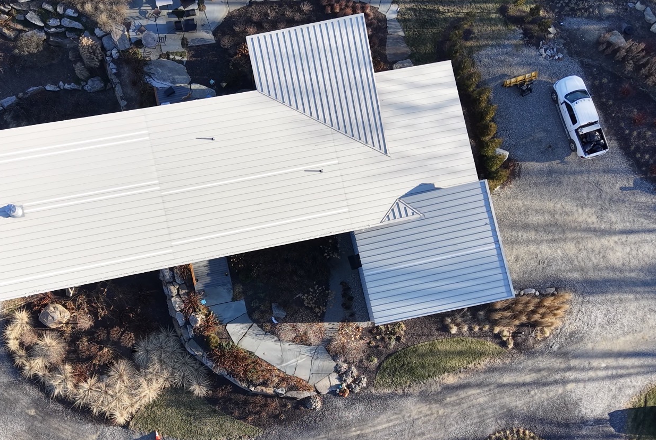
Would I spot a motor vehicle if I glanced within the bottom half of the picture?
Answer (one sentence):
No, there's no motor vehicle to be seen within the bottom half of the picture.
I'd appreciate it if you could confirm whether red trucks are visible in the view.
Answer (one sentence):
No, the photo shows no red truck.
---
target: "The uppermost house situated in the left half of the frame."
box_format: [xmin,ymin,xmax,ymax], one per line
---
[0,12,477,302]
